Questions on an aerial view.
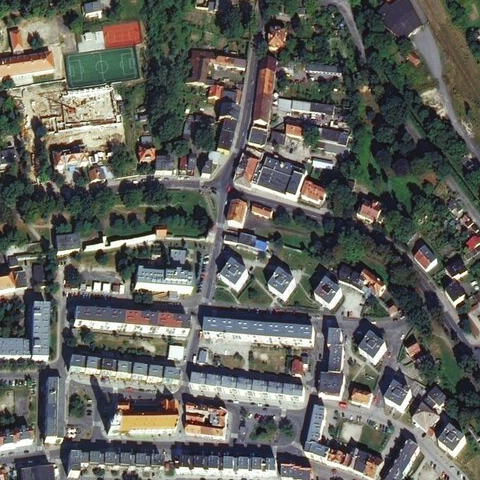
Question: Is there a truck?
No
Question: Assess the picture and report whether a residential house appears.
Yes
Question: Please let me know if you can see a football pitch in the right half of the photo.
No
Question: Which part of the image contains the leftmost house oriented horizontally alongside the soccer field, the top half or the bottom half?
top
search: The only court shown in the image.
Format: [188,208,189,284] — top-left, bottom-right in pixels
[103,21,142,49]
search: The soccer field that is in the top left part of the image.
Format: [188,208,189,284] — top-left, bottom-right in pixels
[65,46,139,89]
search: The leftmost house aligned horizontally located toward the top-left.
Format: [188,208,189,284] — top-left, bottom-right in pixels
[0,52,54,81]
